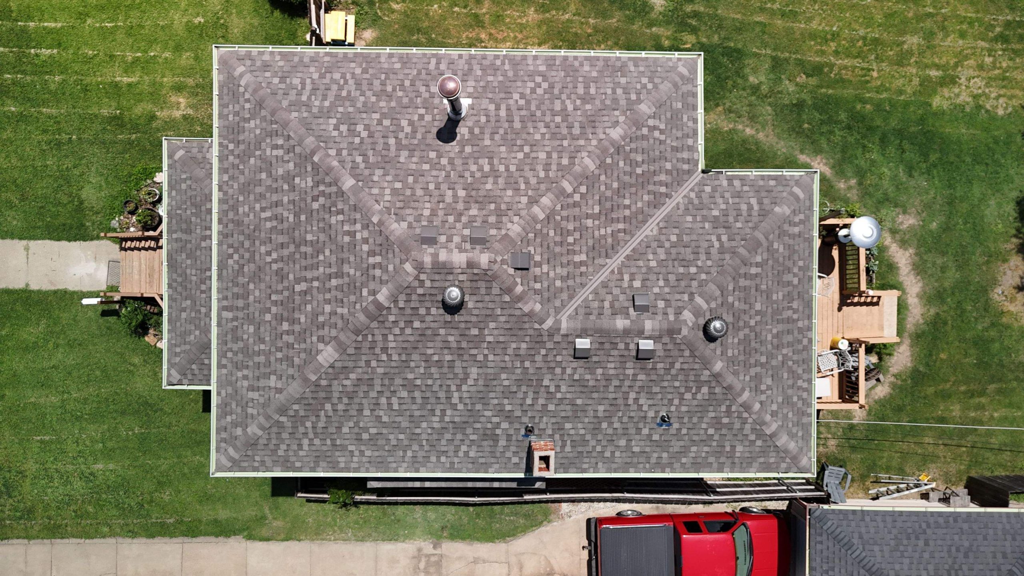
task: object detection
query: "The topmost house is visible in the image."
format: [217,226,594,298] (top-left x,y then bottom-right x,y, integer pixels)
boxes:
[163,45,819,487]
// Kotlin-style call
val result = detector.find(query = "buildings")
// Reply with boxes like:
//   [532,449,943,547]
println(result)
[793,499,1024,576]
[163,45,819,487]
